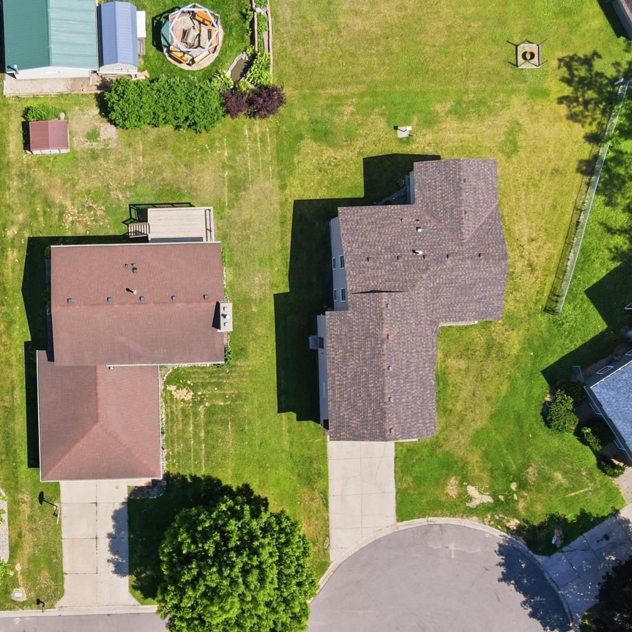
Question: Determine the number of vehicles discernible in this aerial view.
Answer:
none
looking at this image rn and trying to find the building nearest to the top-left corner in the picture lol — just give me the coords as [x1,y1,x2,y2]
[2,0,100,78]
